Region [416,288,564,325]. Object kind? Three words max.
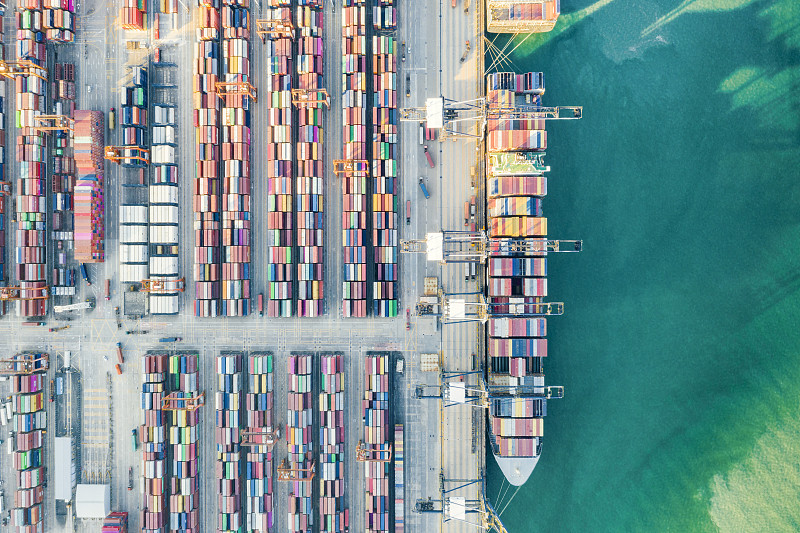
container crane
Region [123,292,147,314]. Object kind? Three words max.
building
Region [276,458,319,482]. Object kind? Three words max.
container crane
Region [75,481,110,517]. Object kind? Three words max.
shed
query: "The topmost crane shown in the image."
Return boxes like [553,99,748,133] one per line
[255,19,298,45]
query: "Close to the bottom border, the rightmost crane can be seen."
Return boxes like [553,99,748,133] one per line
[416,464,521,533]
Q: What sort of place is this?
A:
port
